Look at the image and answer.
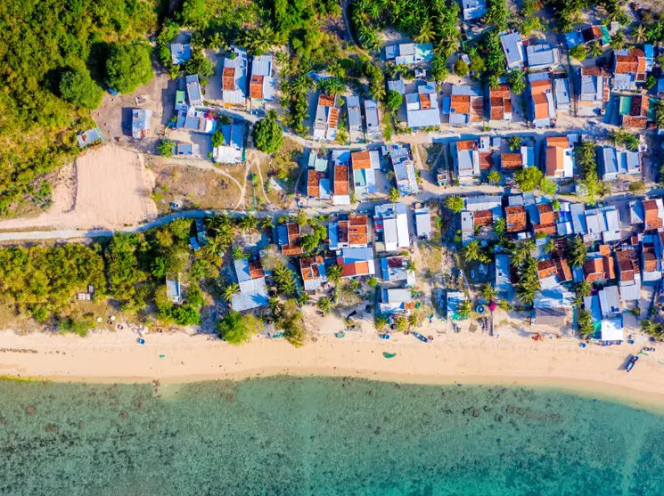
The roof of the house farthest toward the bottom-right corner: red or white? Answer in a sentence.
From above, the roof of the house farthest toward the bottom-right corner appears white.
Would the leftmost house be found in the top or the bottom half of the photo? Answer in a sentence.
It is in the top half that the leftmost house appears.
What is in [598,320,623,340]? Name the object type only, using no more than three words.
house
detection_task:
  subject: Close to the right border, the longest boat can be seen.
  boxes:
[624,354,640,374]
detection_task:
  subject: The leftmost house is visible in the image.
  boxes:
[77,126,103,148]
